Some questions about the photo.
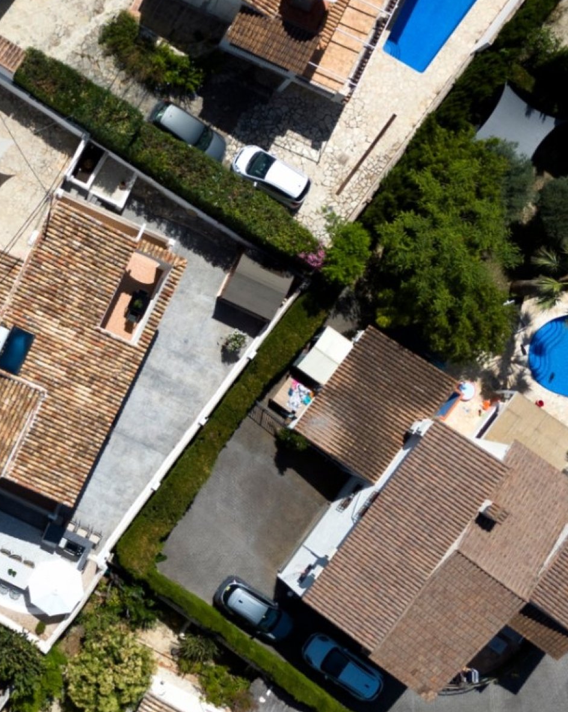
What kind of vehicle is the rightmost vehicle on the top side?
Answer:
automobile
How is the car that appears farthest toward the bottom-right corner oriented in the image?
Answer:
diagonally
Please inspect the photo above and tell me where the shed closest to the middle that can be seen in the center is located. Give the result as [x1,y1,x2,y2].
[214,250,293,320]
